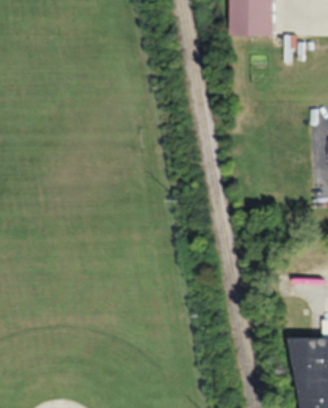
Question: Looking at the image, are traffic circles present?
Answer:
No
